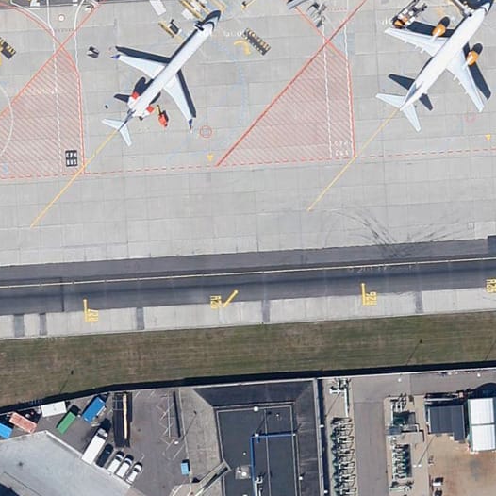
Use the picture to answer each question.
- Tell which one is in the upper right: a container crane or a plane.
plane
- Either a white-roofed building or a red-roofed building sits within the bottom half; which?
white-roofed building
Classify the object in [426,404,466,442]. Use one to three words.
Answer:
building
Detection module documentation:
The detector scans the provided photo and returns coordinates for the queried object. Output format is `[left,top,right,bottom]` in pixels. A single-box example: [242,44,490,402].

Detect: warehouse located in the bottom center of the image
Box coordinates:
[189,378,324,496]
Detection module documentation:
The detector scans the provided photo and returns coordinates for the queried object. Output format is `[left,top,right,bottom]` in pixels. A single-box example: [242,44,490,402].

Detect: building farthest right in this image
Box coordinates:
[466,396,496,450]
